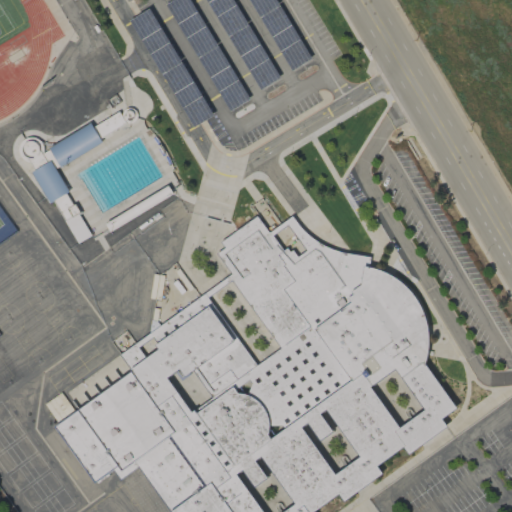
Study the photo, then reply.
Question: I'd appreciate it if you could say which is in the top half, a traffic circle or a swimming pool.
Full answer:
What appears in the top half is a swimming pool.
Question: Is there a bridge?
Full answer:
No, there's no bridge here.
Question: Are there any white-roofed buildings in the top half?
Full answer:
Yes, a white-roofed building appears in the top half.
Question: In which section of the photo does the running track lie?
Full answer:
The running track sits in the top left section of the image.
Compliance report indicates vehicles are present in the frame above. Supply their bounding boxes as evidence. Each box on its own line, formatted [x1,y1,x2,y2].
[384,176,391,186]
[94,25,101,34]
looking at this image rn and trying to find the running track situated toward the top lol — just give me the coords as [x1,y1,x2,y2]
[0,0,64,120]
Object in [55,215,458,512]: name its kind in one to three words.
building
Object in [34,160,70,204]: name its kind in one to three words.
building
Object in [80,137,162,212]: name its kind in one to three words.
swimming pool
